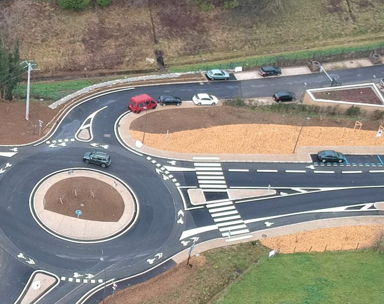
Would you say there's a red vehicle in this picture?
Yes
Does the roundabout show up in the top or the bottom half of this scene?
bottom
